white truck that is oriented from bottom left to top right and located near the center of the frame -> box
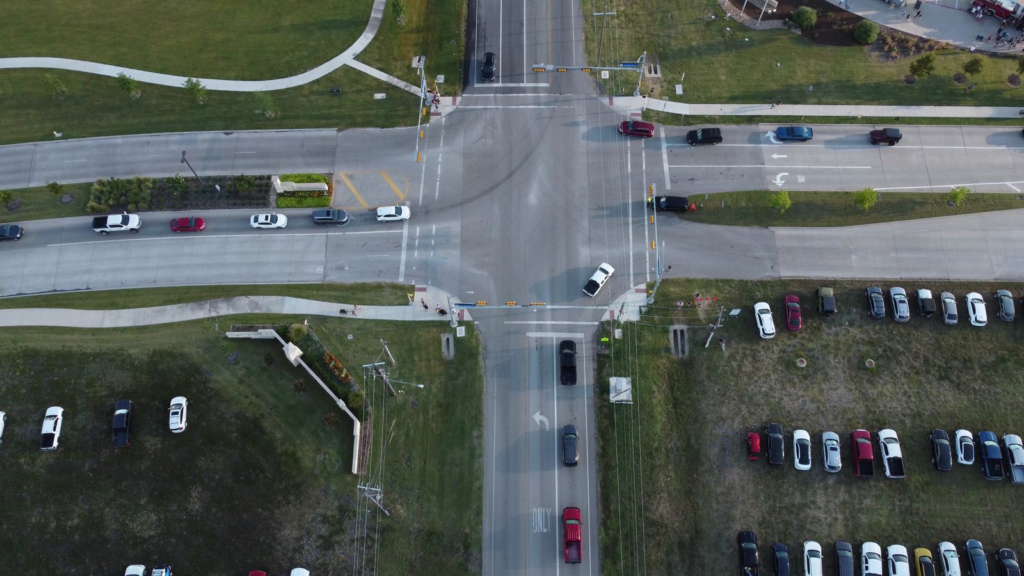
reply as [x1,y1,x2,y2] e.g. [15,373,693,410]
[581,261,615,299]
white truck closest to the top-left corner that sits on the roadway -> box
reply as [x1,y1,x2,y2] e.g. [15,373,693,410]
[89,213,143,234]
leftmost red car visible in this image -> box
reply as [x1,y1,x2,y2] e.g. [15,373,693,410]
[169,216,207,234]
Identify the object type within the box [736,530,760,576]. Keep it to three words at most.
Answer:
truck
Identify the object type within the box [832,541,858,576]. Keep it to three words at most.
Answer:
car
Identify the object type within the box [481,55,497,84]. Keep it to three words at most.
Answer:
car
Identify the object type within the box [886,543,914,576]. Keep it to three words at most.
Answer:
truck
